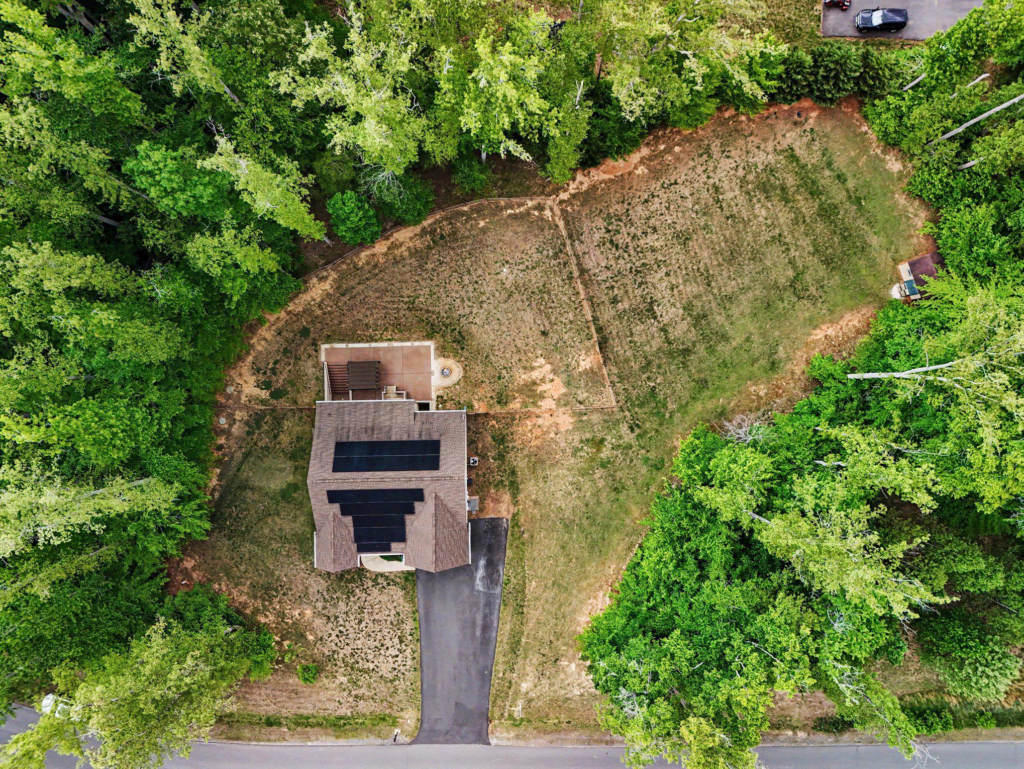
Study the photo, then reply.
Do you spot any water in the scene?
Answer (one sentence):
No, the scene doesn't show any water.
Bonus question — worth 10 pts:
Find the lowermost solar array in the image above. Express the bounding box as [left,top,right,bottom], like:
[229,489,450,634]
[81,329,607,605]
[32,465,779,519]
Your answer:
[327,488,423,552]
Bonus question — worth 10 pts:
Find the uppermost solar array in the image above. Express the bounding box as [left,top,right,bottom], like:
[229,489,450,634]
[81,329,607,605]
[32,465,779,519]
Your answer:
[332,441,440,473]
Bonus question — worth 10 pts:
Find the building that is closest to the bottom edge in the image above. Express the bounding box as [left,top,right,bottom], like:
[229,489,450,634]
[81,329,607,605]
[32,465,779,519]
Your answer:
[307,399,473,573]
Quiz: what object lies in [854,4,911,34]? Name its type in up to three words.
car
